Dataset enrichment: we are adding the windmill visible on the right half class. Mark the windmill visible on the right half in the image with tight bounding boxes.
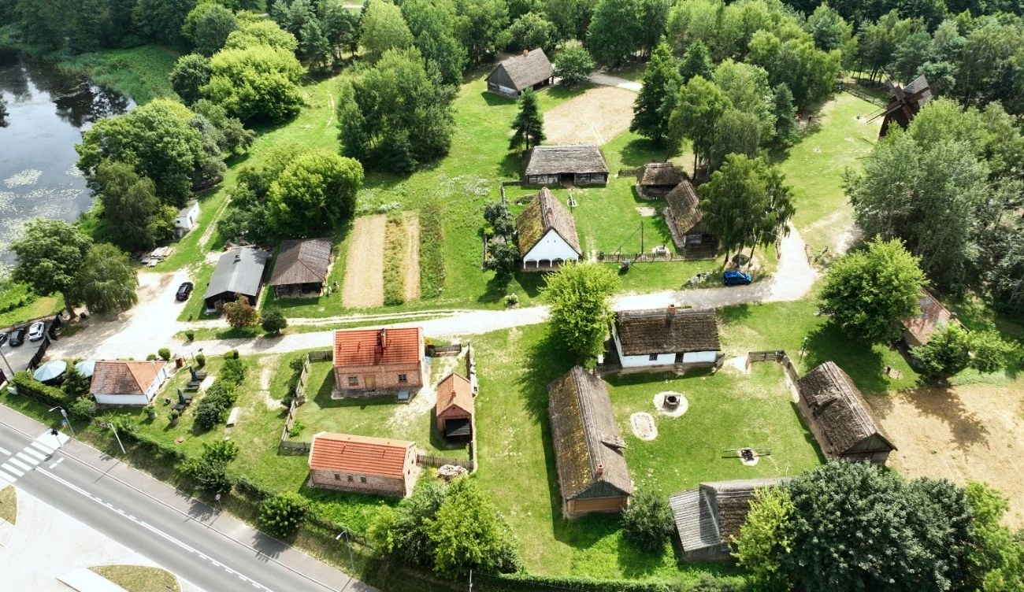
[861,54,960,139]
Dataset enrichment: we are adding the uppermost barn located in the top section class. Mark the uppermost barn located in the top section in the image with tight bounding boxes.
[485,48,556,99]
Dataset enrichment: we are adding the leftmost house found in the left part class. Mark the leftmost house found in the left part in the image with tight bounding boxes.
[90,353,168,406]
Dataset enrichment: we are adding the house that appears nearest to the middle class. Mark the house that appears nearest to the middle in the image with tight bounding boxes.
[516,187,580,271]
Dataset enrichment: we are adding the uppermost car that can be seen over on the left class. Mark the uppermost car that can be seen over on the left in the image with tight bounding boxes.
[172,282,195,300]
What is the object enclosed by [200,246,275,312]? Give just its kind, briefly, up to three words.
shed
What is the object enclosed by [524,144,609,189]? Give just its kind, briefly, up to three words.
barn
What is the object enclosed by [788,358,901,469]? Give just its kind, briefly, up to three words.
barn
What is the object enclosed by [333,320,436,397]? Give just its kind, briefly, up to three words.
house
